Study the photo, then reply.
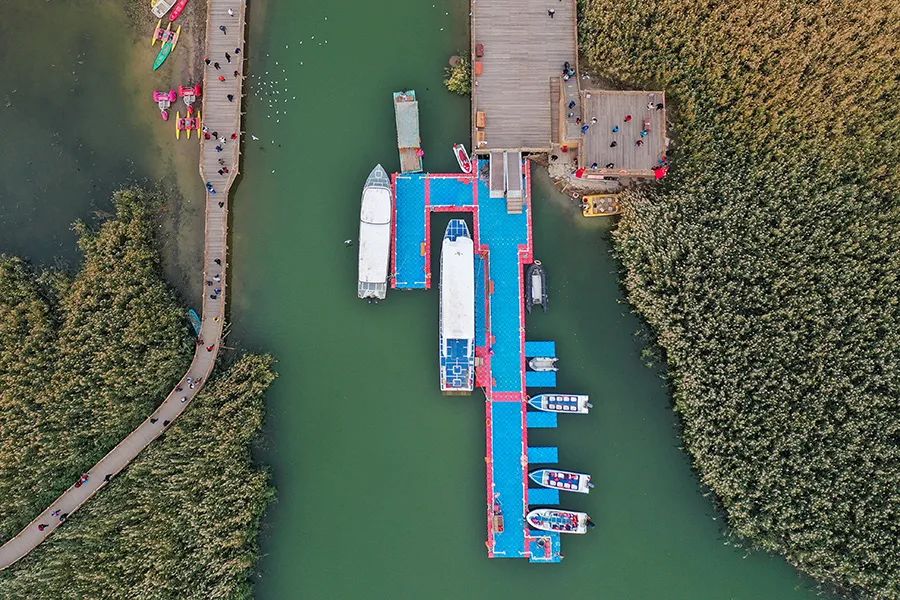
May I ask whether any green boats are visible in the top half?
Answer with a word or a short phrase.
Yes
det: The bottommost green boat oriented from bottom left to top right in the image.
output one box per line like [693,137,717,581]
[153,43,171,70]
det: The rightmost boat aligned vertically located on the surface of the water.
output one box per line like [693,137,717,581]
[526,265,548,310]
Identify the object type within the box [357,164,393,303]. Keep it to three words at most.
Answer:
boat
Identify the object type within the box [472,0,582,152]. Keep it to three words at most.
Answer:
pier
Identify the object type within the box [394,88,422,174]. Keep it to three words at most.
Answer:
vessel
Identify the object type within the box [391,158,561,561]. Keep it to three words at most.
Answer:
pier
